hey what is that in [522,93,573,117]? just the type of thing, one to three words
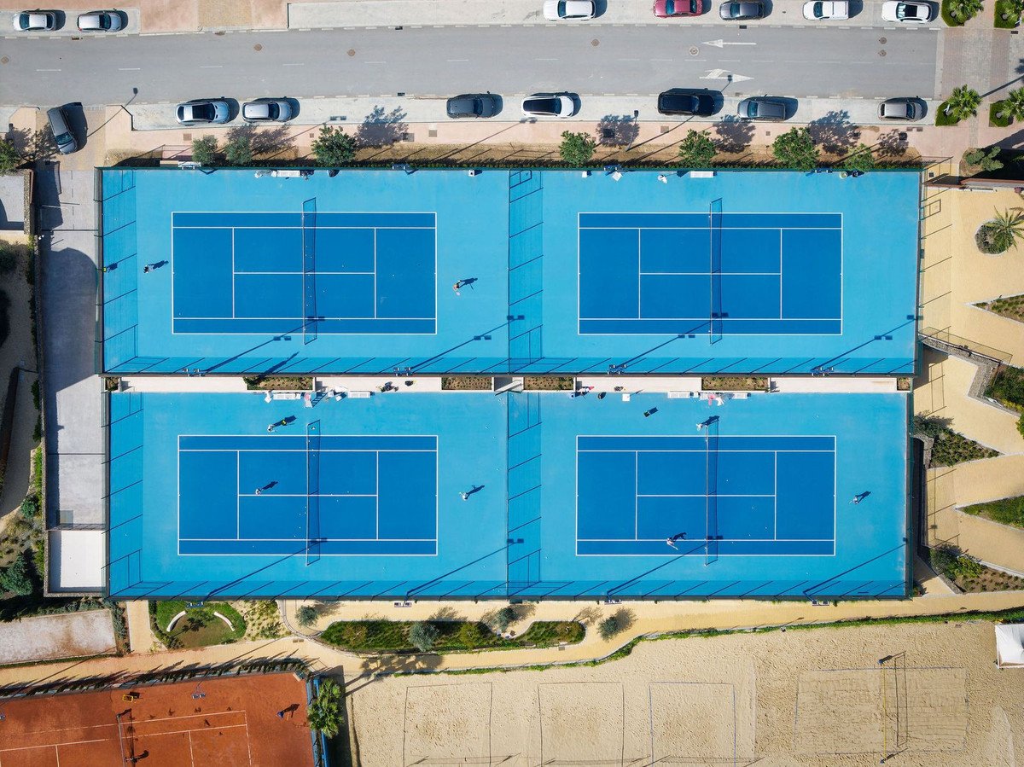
car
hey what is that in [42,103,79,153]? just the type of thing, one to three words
van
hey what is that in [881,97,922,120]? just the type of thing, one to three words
car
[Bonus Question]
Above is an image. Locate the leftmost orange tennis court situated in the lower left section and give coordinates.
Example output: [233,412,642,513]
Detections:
[0,672,312,767]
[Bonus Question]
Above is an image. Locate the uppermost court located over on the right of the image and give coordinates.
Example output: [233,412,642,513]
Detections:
[510,169,919,374]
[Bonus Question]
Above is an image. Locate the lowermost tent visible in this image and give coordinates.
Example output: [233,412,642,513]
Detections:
[997,624,1024,672]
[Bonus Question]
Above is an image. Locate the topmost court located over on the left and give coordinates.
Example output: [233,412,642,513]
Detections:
[102,169,509,374]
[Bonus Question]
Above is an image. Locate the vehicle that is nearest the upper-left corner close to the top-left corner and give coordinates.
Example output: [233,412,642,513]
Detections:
[11,9,53,31]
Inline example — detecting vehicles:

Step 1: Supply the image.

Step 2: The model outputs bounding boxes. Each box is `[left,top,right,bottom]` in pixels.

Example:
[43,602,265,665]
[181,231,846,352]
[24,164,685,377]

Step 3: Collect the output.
[881,97,922,120]
[75,8,120,31]
[522,93,573,117]
[654,0,702,17]
[447,92,494,117]
[11,9,53,31]
[176,100,228,123]
[738,96,788,119]
[42,103,79,153]
[804,0,851,19]
[243,98,288,121]
[659,89,714,115]
[719,0,766,20]
[545,0,595,19]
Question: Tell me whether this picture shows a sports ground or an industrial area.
sports ground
